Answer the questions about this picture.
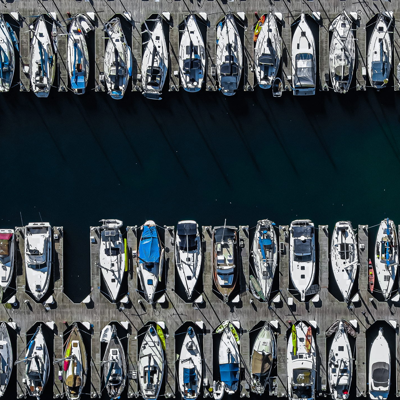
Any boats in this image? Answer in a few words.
Yes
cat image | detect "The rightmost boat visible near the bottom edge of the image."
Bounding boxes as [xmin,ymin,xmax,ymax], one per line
[365,328,396,400]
